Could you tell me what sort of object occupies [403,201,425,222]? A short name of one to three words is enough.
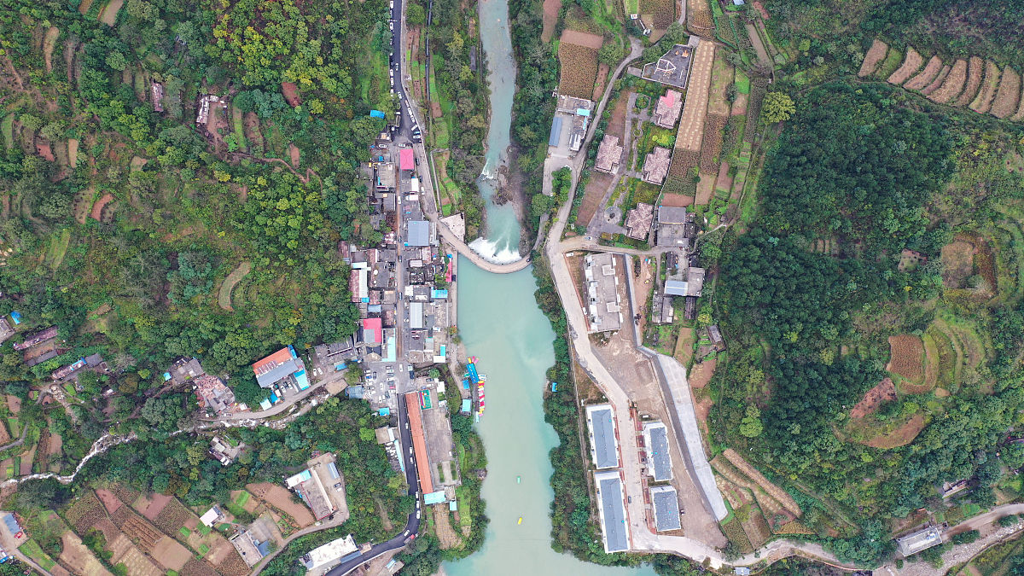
house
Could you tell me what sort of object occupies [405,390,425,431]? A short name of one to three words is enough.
building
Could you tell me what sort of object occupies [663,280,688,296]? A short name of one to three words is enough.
house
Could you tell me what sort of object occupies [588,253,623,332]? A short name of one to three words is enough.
building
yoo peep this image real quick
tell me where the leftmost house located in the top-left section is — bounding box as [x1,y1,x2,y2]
[151,83,169,115]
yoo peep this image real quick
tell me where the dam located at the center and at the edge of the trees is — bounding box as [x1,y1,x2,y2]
[438,220,533,274]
